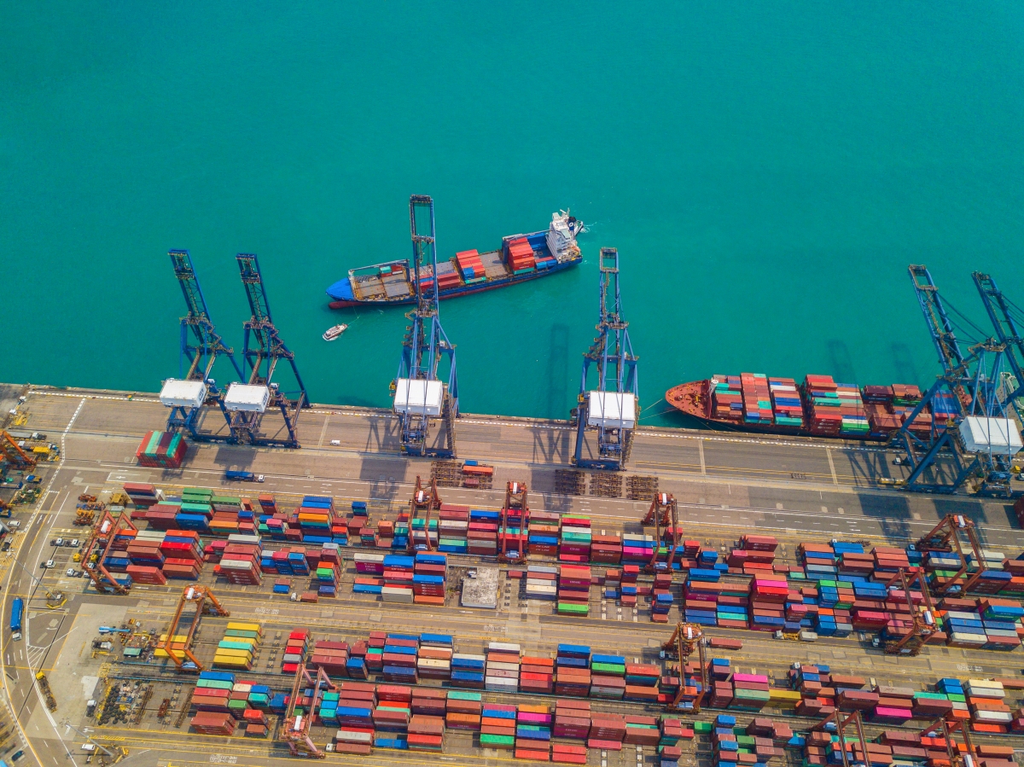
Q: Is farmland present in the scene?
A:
No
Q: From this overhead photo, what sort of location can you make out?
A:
port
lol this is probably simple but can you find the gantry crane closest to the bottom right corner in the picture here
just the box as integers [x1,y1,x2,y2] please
[903,715,974,767]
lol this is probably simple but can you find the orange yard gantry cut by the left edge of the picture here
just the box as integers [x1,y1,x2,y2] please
[0,437,33,469]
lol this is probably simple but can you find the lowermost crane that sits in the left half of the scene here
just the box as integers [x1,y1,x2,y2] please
[280,664,337,759]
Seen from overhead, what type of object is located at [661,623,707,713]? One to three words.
container crane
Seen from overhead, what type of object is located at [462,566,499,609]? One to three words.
building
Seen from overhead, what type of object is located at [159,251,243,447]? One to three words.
container crane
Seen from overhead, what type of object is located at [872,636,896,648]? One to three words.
vehicle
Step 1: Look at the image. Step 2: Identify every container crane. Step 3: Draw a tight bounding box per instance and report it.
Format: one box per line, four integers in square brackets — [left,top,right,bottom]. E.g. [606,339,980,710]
[903,715,974,767]
[405,474,443,556]
[162,585,230,674]
[920,511,990,593]
[280,664,337,759]
[572,244,638,475]
[78,510,144,594]
[882,568,940,655]
[955,266,1024,495]
[498,480,529,564]
[389,194,460,463]
[804,706,868,767]
[892,263,1024,501]
[159,251,243,447]
[642,490,680,575]
[0,437,33,469]
[661,623,707,713]
[225,256,310,452]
